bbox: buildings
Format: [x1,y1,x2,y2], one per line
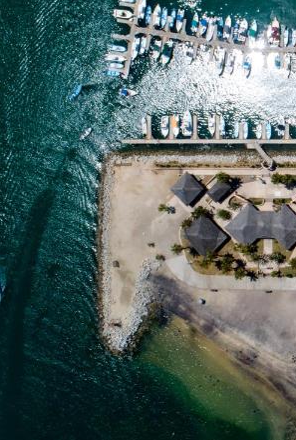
[225,203,296,249]
[207,181,233,202]
[184,216,230,256]
[170,172,205,206]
